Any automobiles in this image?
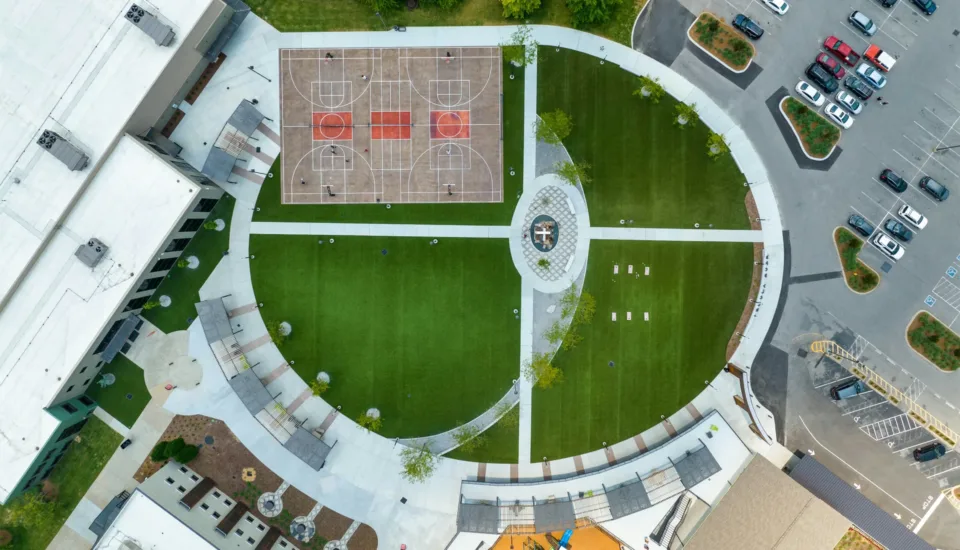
Yes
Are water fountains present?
Yes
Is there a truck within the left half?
No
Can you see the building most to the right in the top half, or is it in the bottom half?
bottom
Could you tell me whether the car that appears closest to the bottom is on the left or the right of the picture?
right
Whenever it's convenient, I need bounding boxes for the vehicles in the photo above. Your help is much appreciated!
[829,379,864,400]
[917,174,950,203]
[841,73,876,102]
[822,101,855,130]
[878,167,908,194]
[846,8,877,37]
[882,216,914,244]
[815,51,846,79]
[855,62,887,90]
[862,43,900,72]
[845,211,878,240]
[905,0,937,17]
[731,12,765,42]
[873,231,906,260]
[794,79,826,108]
[821,35,862,67]
[832,88,863,116]
[804,63,838,93]
[911,441,945,463]
[896,202,928,230]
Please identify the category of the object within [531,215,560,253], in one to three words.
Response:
fountain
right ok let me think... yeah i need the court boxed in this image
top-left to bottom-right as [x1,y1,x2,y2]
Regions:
[279,46,503,204]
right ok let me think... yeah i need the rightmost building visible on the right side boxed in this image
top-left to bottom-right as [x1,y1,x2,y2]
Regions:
[674,450,850,550]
